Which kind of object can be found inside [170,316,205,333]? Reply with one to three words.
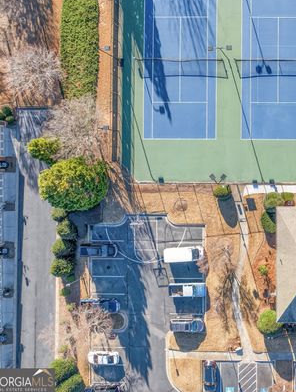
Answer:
car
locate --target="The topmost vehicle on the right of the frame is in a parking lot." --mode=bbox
[160,246,205,263]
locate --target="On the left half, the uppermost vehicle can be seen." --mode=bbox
[81,243,119,258]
